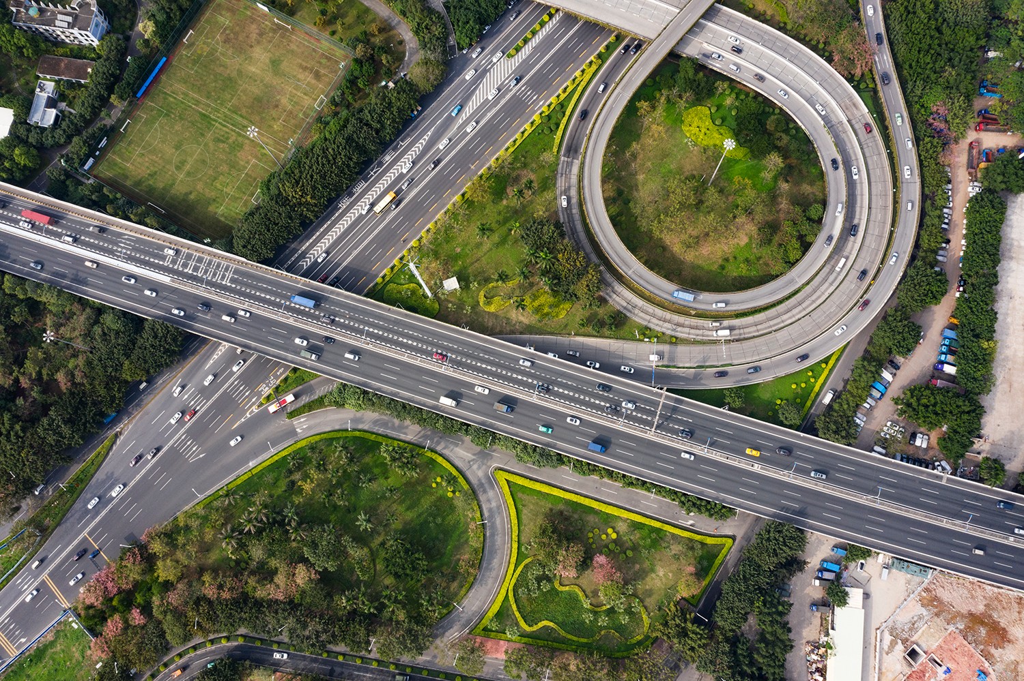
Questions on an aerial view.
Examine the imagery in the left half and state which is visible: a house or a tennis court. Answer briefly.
house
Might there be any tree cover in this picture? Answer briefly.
Yes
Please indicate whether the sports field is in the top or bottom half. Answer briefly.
top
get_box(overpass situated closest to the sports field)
[0,182,1024,591]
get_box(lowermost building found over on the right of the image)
[820,606,864,681]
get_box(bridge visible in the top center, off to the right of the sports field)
[487,0,695,54]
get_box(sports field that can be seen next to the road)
[82,0,351,243]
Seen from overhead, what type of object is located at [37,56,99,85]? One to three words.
house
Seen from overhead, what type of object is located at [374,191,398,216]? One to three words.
bus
